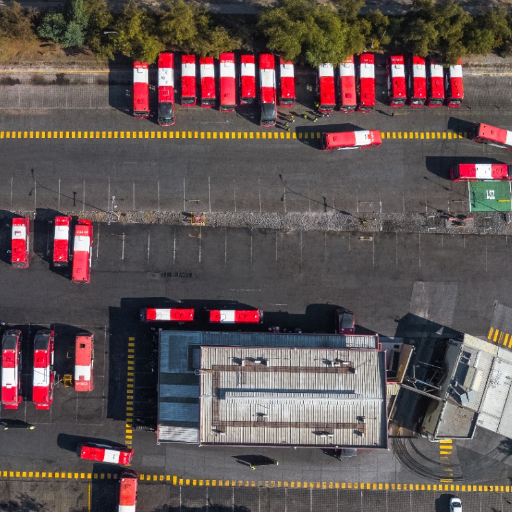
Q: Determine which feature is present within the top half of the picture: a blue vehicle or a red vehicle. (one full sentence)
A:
Visible within the top half of the picture is a red vehicle.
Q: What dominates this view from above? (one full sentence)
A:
The bulk of the photo consists of paved ground.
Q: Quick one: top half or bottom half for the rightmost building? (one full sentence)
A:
The rightmost building sits in the bottom half of the picture.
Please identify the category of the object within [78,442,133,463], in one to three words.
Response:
bus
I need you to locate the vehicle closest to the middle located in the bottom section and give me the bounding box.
[209,308,265,325]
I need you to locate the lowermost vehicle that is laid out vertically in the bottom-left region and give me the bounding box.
[121,470,139,512]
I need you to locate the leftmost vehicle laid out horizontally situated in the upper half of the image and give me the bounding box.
[319,131,381,150]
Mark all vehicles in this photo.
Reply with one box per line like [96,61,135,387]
[453,164,512,181]
[426,60,445,108]
[133,59,152,119]
[1,331,22,409]
[72,224,92,287]
[356,53,377,114]
[387,55,408,107]
[200,56,217,108]
[78,442,133,463]
[76,331,94,391]
[53,216,71,270]
[468,121,512,150]
[319,131,381,150]
[157,52,176,125]
[278,56,296,107]
[336,52,358,114]
[180,54,197,107]
[443,61,465,107]
[146,308,201,323]
[218,53,238,114]
[209,308,265,325]
[121,470,139,512]
[316,57,336,114]
[258,53,279,127]
[33,331,53,409]
[408,56,429,107]
[11,217,30,269]
[449,496,463,512]
[240,54,257,107]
